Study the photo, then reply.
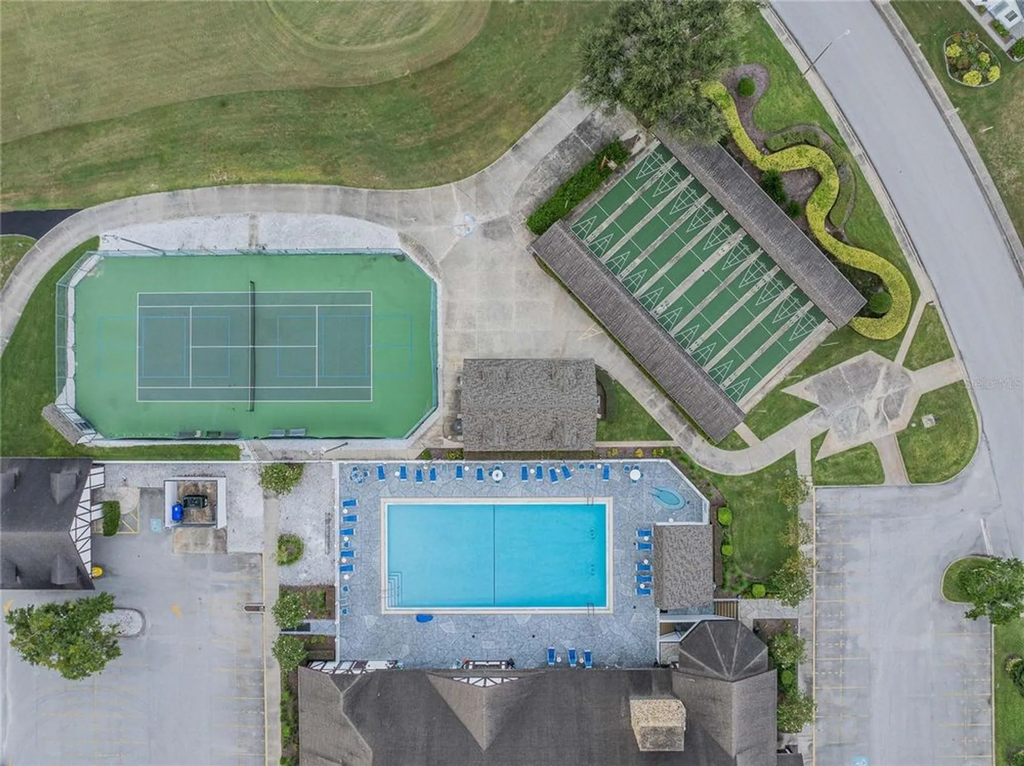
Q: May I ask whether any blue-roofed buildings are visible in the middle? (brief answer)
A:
No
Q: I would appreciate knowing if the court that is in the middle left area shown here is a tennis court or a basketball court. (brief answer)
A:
tennis court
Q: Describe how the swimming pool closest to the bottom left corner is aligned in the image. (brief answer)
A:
from left to right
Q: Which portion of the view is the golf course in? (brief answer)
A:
top left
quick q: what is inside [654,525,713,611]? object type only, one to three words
building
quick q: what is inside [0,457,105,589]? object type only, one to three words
building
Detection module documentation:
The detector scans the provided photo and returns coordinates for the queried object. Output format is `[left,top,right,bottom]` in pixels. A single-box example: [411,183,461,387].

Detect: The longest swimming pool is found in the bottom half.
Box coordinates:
[379,497,613,615]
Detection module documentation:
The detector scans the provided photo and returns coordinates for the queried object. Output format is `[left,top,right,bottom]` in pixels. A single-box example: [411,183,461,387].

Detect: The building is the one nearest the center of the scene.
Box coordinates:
[461,359,597,451]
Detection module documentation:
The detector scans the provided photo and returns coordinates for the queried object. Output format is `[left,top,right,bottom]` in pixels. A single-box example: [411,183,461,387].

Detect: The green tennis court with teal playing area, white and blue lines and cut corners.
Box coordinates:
[74,255,433,439]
